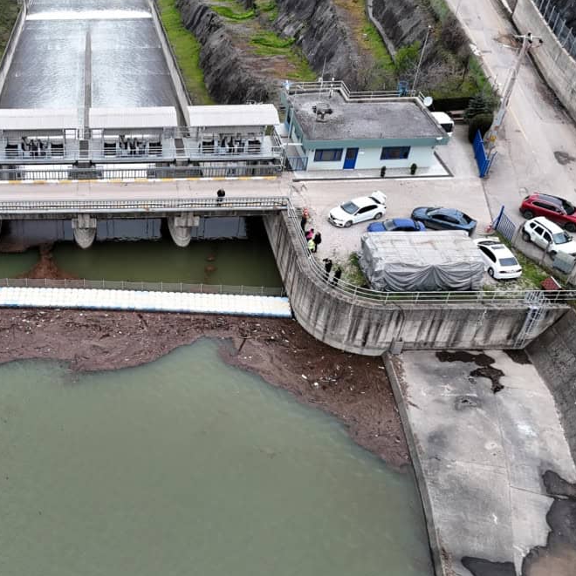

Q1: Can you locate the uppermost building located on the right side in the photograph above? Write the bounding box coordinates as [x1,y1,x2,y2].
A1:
[282,61,452,180]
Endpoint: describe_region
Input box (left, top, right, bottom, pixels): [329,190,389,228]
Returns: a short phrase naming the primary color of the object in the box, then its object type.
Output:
white car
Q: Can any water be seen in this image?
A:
Yes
